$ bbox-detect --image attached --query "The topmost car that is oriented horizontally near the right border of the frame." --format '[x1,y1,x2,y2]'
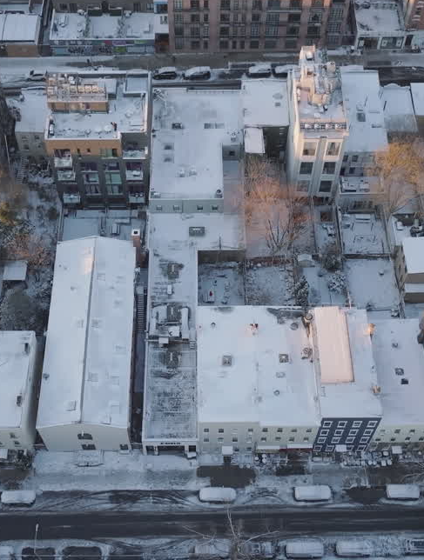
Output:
[381,482,423,501]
